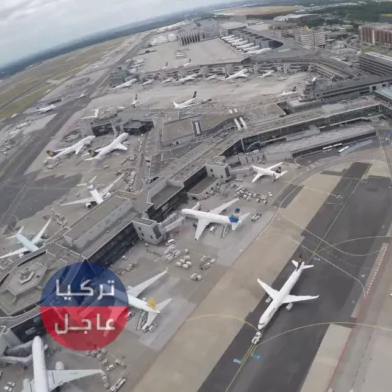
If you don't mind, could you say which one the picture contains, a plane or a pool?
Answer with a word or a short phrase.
plane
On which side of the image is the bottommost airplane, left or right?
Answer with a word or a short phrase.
left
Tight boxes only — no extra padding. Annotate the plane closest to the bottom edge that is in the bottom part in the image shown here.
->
[32,339,111,392]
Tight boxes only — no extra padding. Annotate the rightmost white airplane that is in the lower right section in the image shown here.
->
[257,258,319,339]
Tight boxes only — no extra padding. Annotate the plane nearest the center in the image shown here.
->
[182,198,248,237]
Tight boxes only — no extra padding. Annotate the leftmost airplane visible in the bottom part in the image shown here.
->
[0,219,56,258]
